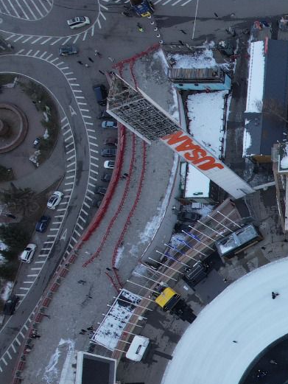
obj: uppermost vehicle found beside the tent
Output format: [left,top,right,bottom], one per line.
[150,285,185,317]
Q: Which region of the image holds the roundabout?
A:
left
